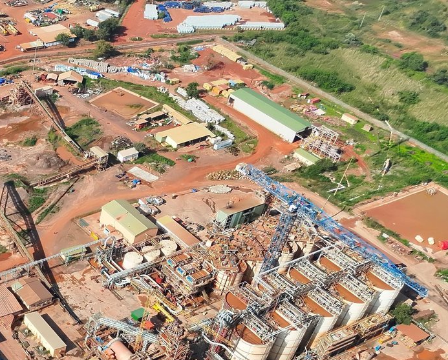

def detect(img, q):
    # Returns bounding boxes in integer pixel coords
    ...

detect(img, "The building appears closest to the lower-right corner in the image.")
[400,326,435,348]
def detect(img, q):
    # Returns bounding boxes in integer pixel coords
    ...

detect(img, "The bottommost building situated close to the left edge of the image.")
[22,310,68,358]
